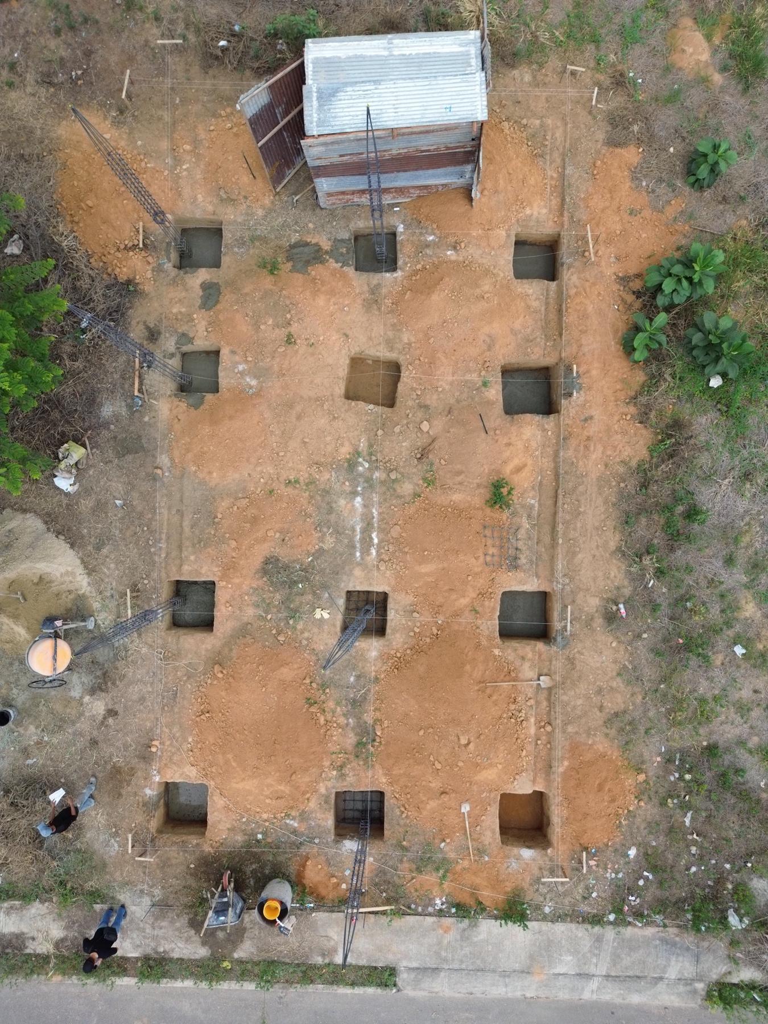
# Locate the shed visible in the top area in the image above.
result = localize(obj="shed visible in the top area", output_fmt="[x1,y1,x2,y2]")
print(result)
[242,30,496,207]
